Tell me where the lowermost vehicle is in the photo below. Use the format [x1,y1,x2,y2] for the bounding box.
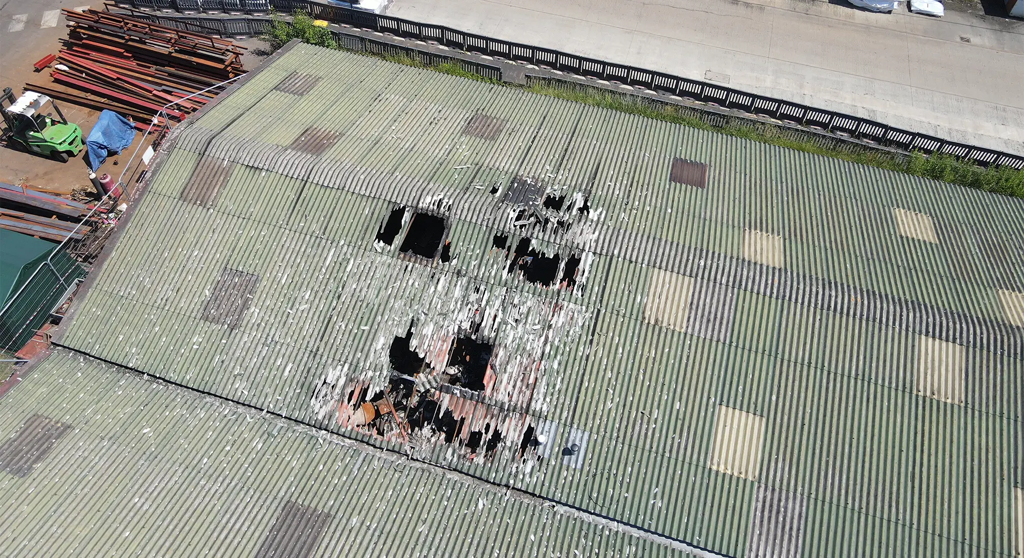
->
[0,89,93,164]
